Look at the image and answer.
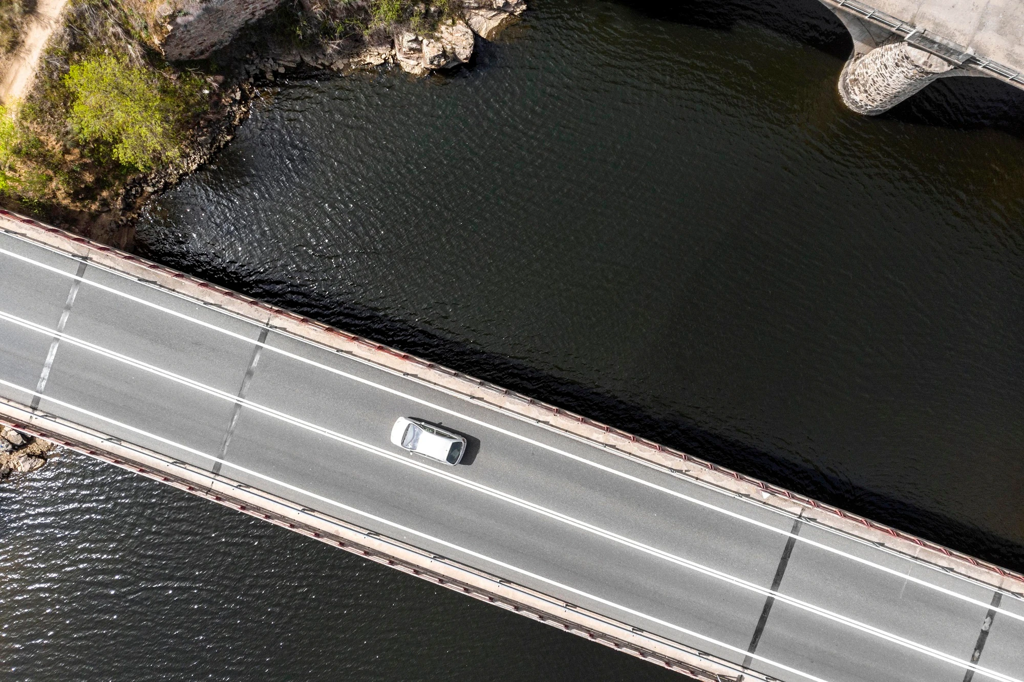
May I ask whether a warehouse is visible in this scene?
No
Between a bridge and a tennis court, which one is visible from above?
bridge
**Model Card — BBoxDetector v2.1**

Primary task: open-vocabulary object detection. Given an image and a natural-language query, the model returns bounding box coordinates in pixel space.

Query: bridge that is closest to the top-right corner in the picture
[819,0,1024,117]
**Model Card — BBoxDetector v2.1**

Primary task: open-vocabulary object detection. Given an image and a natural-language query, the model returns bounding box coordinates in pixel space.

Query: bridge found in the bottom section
[0,206,1024,682]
